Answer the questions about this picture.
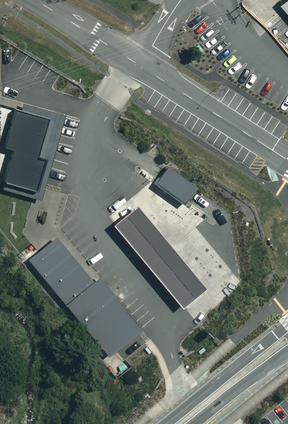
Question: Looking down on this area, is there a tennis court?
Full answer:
No, there isn't any tennis court down there.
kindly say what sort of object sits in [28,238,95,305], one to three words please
shed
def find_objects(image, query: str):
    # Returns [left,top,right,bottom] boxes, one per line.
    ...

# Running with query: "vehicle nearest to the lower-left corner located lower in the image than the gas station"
[125,342,140,355]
